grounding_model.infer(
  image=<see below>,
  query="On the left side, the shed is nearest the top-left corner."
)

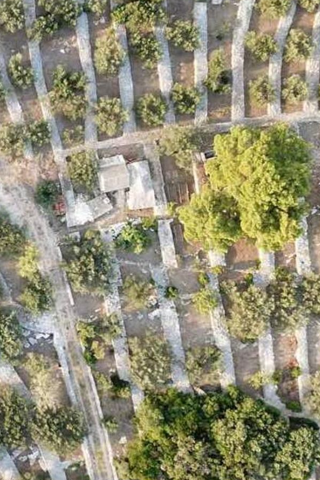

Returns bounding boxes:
[96,155,129,192]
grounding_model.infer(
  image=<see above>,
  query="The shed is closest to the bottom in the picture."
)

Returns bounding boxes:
[86,194,112,218]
